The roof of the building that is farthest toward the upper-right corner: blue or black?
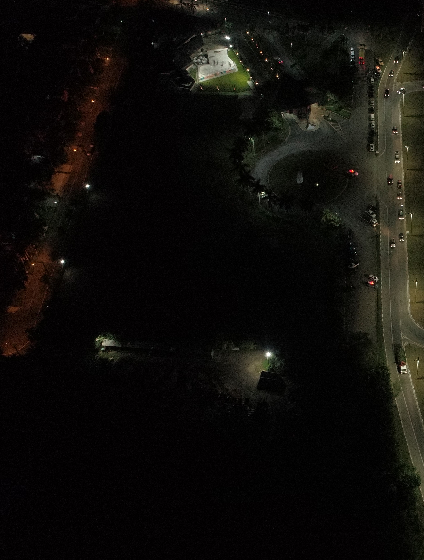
black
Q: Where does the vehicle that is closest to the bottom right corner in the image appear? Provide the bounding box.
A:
[396,345,409,377]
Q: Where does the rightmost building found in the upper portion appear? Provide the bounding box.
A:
[271,78,319,127]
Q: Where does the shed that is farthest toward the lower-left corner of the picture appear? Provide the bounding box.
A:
[100,339,160,355]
